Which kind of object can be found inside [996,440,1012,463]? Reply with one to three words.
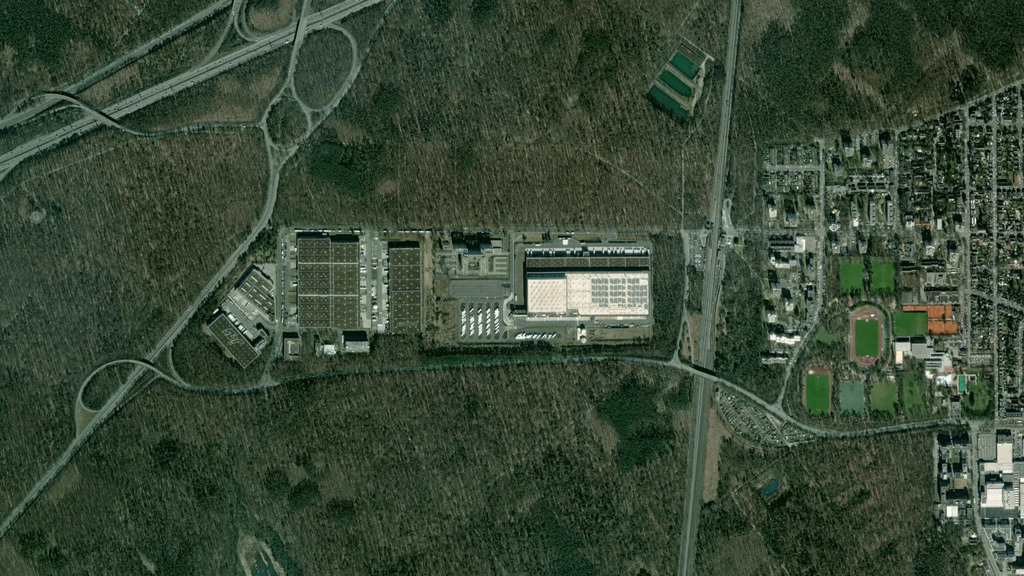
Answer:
building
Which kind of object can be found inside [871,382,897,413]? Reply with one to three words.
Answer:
soccer field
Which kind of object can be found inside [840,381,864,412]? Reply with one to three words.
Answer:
soccer field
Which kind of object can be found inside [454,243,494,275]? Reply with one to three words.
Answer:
building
